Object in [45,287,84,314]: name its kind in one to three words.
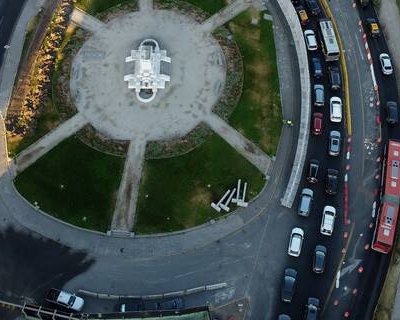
truck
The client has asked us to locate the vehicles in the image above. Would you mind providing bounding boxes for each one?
[329,131,343,157]
[311,243,329,275]
[280,269,298,303]
[321,17,340,61]
[374,139,400,264]
[325,170,339,195]
[305,295,322,320]
[359,0,369,7]
[298,8,311,25]
[366,19,382,39]
[314,84,327,108]
[313,113,324,135]
[386,100,399,125]
[329,68,341,89]
[311,58,324,77]
[381,54,392,74]
[305,0,320,15]
[287,228,304,259]
[297,187,315,218]
[307,159,321,185]
[45,287,84,314]
[331,99,342,121]
[320,206,337,236]
[306,32,317,51]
